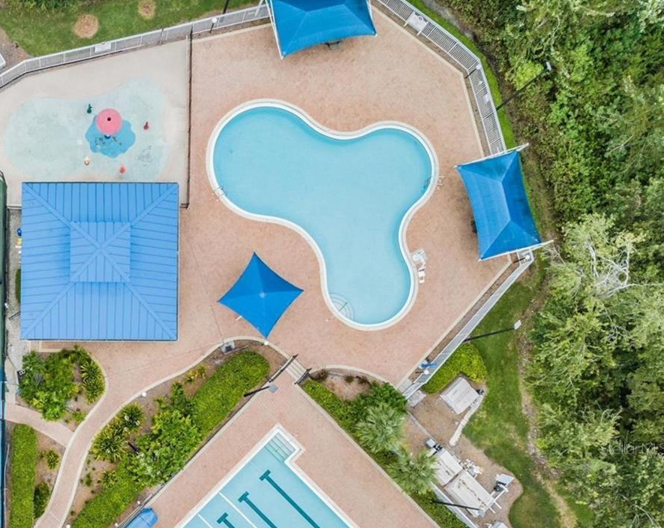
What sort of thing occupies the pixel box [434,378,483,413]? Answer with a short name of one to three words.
shed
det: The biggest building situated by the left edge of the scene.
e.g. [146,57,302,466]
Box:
[19,181,181,344]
